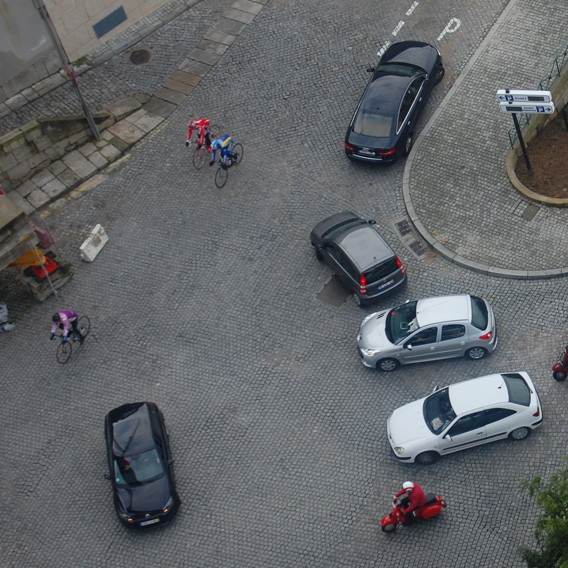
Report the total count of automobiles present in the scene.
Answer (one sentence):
The number of automobiles here is 5.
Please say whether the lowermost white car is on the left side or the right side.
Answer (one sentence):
The lowermost white car appears in the right half of the scene.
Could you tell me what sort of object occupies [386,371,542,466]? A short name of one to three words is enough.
car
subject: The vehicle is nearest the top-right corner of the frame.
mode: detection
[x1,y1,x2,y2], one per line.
[343,47,444,166]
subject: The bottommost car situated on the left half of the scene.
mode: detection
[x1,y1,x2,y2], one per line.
[100,394,180,524]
